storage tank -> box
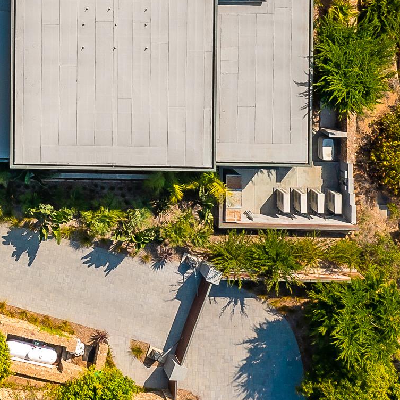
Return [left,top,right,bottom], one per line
[1,338,61,369]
